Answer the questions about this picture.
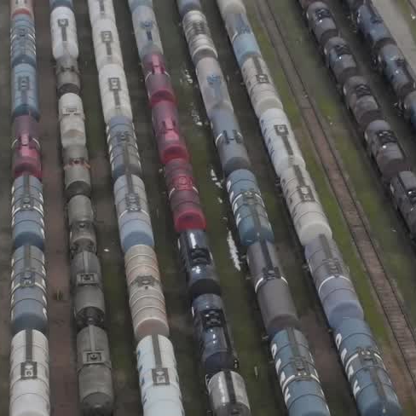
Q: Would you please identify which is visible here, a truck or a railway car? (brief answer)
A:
railway car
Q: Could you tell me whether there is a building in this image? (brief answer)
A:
No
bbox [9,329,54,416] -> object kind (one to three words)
rail car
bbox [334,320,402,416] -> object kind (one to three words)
rail car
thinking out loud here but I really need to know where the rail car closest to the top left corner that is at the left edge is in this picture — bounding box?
[12,0,39,22]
